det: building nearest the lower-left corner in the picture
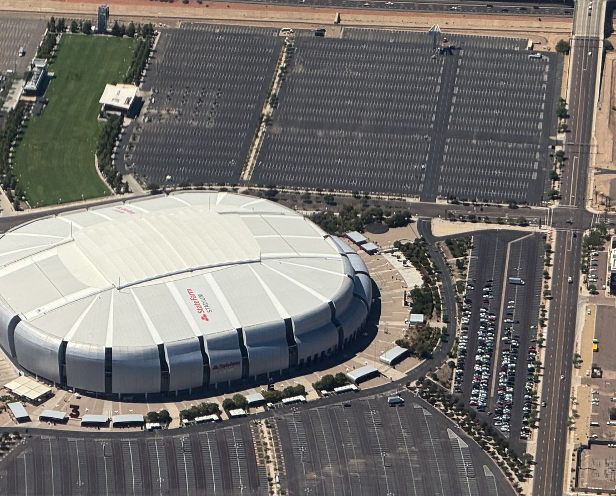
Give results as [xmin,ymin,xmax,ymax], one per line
[4,375,51,401]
